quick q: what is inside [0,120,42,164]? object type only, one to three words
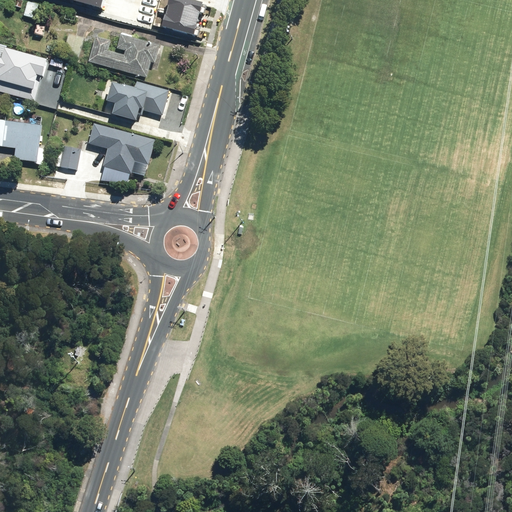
house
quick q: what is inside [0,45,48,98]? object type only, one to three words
house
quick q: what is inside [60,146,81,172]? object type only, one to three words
building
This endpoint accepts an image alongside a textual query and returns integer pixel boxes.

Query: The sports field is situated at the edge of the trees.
[156,0,512,492]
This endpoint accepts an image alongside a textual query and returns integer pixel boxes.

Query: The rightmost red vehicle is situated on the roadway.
[169,192,181,208]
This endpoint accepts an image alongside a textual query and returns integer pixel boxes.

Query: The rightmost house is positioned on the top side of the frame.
[162,0,206,38]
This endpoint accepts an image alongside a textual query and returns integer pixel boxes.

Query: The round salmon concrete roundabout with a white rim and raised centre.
[164,226,198,260]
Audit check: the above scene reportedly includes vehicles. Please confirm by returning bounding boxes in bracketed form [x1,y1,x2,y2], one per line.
[54,72,62,88]
[258,2,268,22]
[139,6,154,14]
[138,15,152,24]
[178,95,188,110]
[169,192,181,208]
[94,501,104,512]
[47,219,62,226]
[142,0,157,6]
[92,153,106,167]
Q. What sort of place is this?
sports ground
